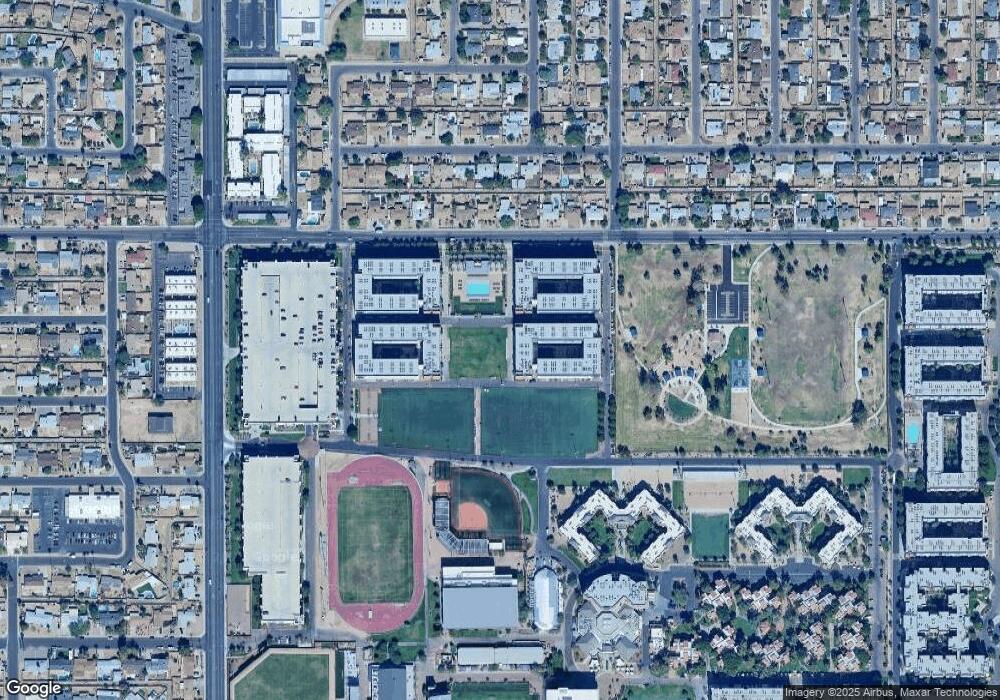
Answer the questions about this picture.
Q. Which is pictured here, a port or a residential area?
residential area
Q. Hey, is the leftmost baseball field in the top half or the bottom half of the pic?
bottom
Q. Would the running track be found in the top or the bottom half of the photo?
bottom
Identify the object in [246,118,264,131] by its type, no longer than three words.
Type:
swimming pool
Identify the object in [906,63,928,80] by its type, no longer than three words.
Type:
house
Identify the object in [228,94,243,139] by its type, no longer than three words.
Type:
building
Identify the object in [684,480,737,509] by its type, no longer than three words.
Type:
sports court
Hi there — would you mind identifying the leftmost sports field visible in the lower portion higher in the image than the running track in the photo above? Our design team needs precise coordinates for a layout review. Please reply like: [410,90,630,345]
[379,389,474,453]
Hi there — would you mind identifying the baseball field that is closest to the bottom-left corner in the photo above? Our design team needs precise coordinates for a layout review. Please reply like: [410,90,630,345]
[229,647,334,700]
